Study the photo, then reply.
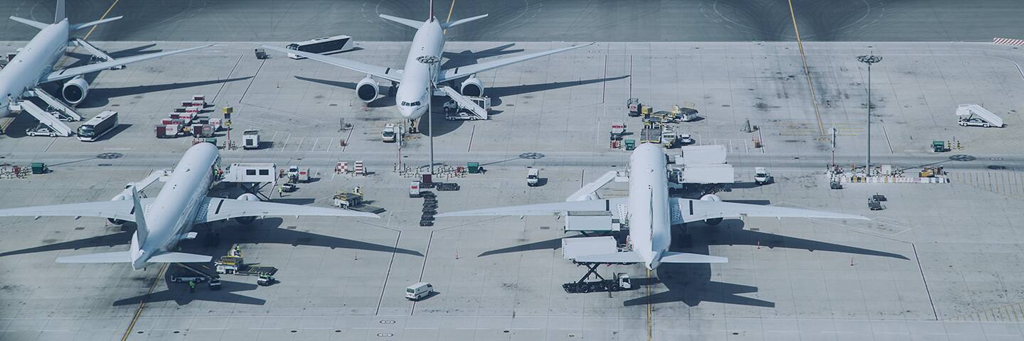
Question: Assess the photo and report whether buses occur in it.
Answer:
Yes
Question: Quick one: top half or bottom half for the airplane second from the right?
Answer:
top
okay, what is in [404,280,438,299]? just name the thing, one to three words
vehicle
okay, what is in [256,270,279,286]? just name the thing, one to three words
work vehicle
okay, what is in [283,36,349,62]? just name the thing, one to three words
bus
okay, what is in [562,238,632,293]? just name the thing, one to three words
truck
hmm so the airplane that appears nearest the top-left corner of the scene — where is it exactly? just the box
[0,0,214,134]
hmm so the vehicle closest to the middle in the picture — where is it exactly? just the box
[527,167,540,186]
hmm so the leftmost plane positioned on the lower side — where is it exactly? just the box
[0,146,375,273]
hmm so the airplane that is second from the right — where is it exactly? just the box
[261,0,597,133]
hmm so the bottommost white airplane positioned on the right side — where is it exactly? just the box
[433,144,867,272]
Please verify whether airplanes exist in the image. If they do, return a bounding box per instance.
[0,0,214,134]
[0,146,375,273]
[433,144,867,272]
[261,0,597,133]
